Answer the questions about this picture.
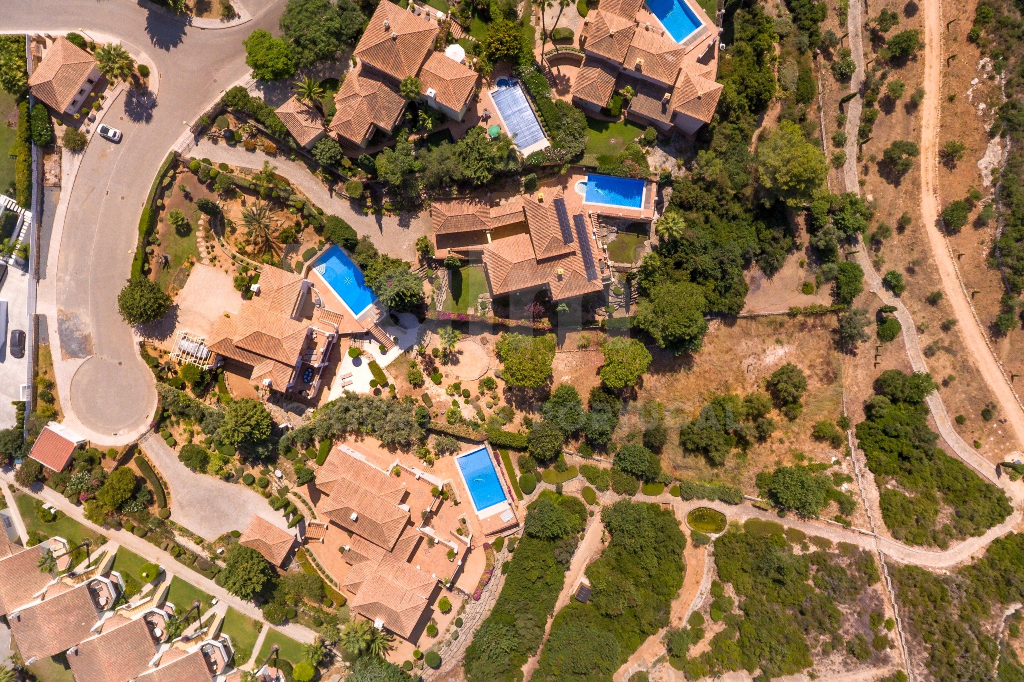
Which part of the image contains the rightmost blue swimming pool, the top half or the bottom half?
top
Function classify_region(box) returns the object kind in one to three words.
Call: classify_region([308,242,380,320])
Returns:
swimming pool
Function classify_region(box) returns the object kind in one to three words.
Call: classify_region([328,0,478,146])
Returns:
house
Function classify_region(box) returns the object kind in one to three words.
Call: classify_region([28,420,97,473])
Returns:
shed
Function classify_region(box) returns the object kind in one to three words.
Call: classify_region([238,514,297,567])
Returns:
building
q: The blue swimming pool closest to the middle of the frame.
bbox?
[452,445,510,515]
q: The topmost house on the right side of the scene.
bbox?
[572,0,724,130]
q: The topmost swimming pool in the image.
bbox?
[643,0,706,44]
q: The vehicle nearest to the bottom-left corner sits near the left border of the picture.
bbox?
[11,333,27,360]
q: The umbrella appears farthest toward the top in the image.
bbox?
[446,44,466,63]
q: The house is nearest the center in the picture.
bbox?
[430,185,603,300]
